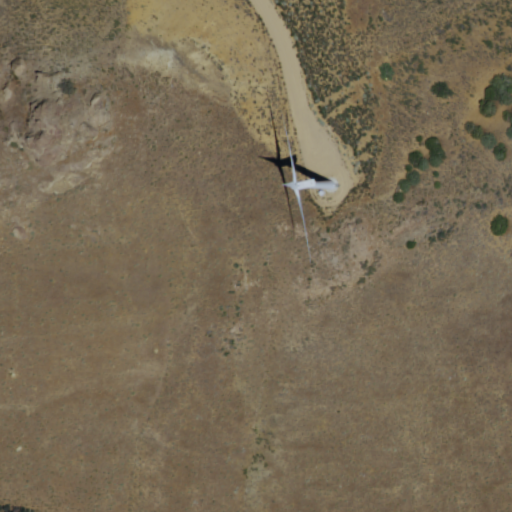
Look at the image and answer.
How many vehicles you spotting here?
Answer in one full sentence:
The count of vehicles is 0.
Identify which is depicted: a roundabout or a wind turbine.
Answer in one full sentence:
The image shows a wind turbine.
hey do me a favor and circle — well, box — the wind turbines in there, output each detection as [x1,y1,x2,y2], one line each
[283,118,342,259]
